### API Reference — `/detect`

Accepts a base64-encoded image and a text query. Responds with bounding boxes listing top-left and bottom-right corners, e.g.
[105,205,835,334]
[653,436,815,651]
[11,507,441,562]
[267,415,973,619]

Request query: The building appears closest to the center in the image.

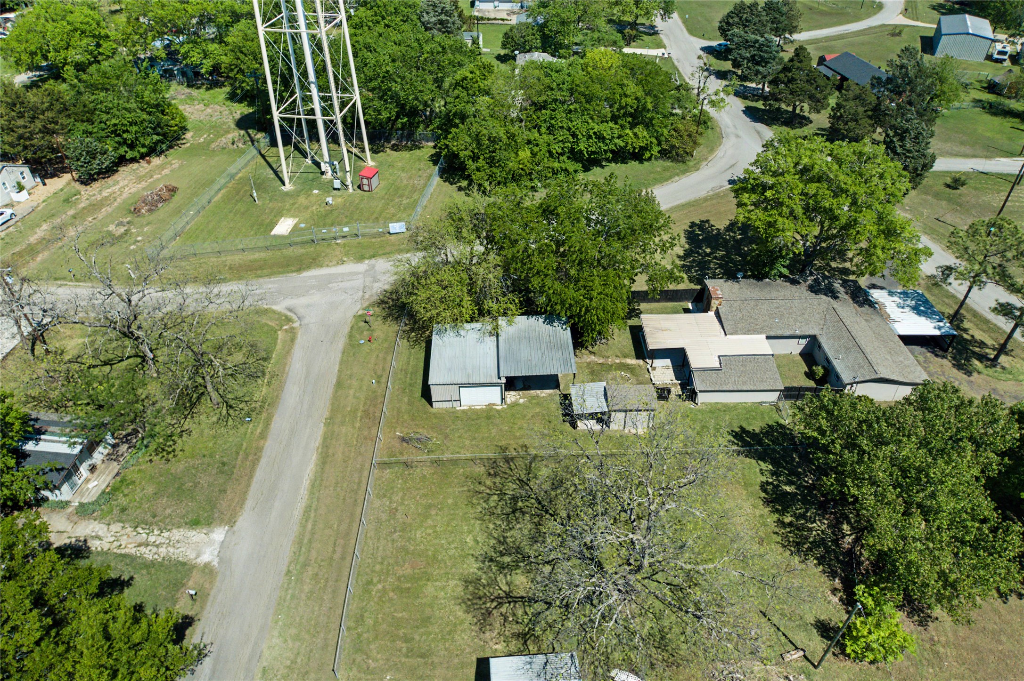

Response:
[428,315,576,408]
